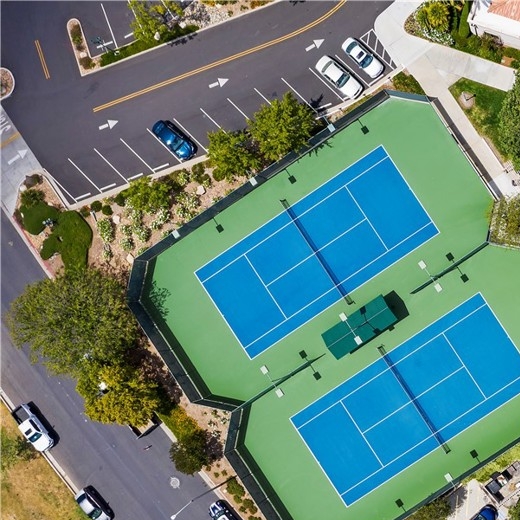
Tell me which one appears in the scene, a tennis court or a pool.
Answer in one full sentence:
This aerial view contains a tennis court.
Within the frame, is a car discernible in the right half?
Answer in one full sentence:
Yes, I can see a car in the right half.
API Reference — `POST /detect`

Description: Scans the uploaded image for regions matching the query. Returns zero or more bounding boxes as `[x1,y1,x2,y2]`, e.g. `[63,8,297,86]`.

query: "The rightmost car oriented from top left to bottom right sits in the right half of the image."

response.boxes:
[341,37,382,79]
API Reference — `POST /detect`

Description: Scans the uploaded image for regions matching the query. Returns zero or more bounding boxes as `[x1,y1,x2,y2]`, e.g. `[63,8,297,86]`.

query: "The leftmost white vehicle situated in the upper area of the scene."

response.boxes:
[315,56,359,99]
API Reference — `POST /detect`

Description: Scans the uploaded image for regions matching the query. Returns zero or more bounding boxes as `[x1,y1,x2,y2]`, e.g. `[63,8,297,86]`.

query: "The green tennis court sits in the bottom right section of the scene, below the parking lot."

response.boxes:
[237,245,520,520]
